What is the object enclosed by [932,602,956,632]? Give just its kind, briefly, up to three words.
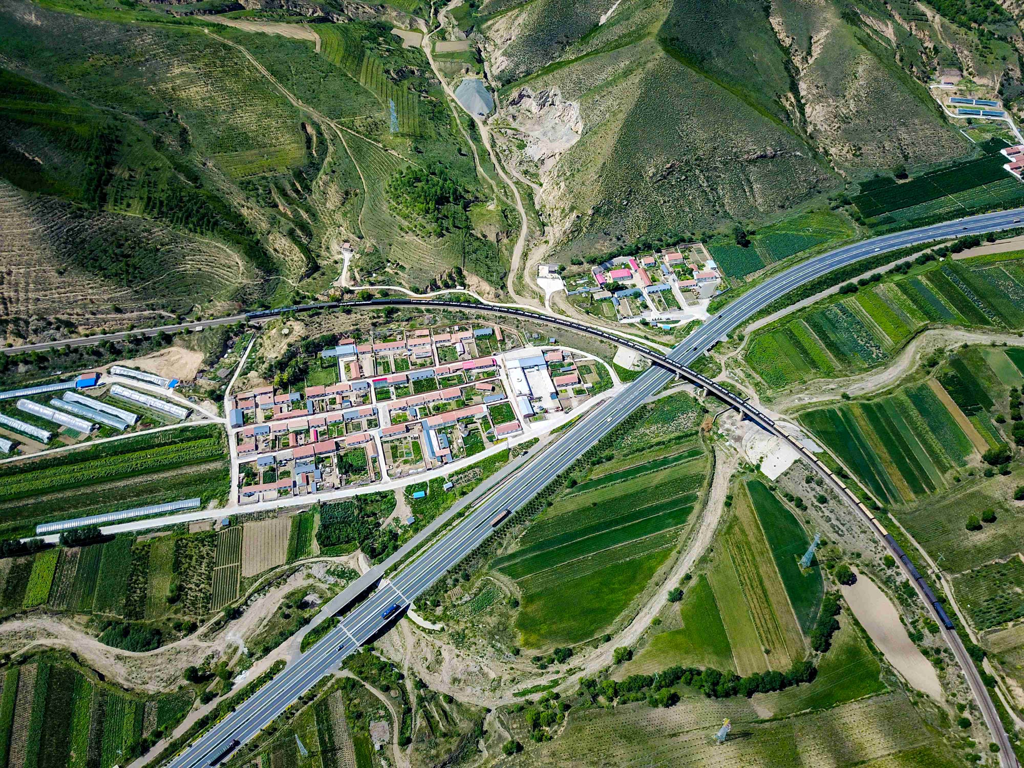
rail car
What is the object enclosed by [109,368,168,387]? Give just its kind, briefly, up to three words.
greenhouse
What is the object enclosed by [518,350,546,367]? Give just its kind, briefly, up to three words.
building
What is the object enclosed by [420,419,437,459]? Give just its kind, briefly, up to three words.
house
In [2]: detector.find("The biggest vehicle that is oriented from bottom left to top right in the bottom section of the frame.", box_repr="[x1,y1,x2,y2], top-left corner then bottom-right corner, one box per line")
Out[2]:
[206,735,243,767]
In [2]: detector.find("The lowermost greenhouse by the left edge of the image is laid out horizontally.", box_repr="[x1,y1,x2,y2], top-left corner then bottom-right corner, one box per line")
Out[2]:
[35,499,200,536]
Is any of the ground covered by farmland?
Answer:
Yes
